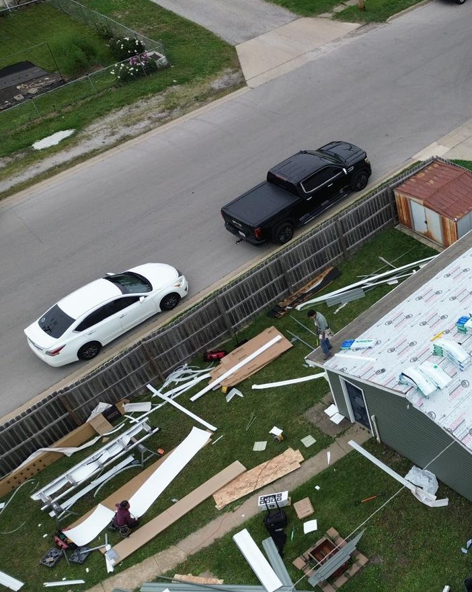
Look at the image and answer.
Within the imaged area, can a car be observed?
Yes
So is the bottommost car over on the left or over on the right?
left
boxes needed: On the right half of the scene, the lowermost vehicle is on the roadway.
[220,144,377,249]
